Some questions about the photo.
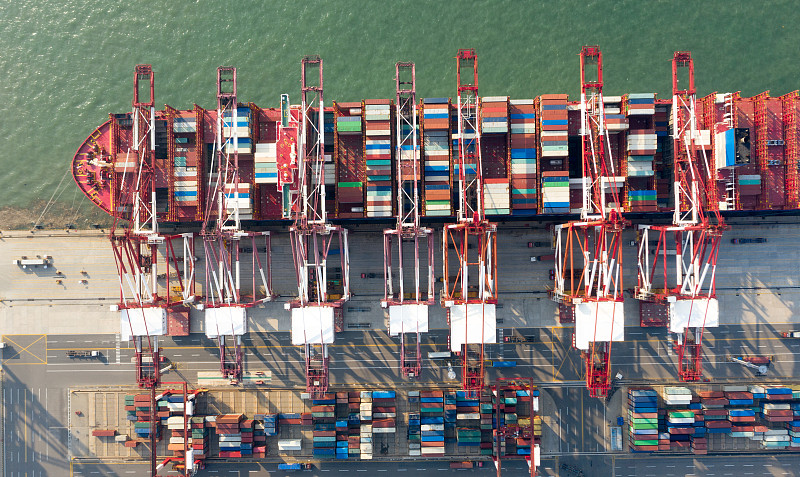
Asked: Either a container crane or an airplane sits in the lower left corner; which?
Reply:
container crane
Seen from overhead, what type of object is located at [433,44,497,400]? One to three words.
container crane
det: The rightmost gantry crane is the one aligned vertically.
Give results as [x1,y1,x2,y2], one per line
[617,48,727,386]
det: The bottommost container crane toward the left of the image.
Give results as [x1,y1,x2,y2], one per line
[151,380,217,477]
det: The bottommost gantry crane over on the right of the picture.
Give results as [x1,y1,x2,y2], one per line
[484,379,540,477]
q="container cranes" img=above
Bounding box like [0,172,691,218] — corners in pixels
[107,60,216,393]
[284,51,357,401]
[151,380,217,477]
[193,62,285,390]
[617,48,727,386]
[536,41,625,404]
[378,58,434,383]
[484,379,540,477]
[433,44,497,400]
